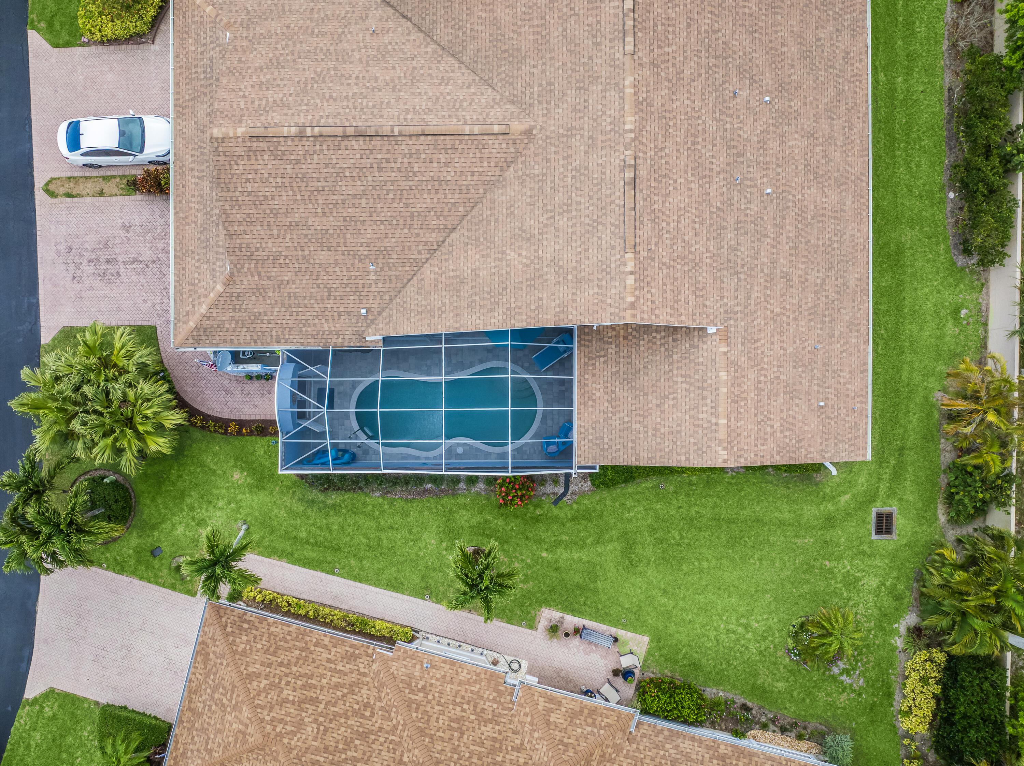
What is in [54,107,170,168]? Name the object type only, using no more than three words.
car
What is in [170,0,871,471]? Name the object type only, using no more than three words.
house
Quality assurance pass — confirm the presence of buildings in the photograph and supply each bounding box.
[170,0,871,471]
[162,598,841,766]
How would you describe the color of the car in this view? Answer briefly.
white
